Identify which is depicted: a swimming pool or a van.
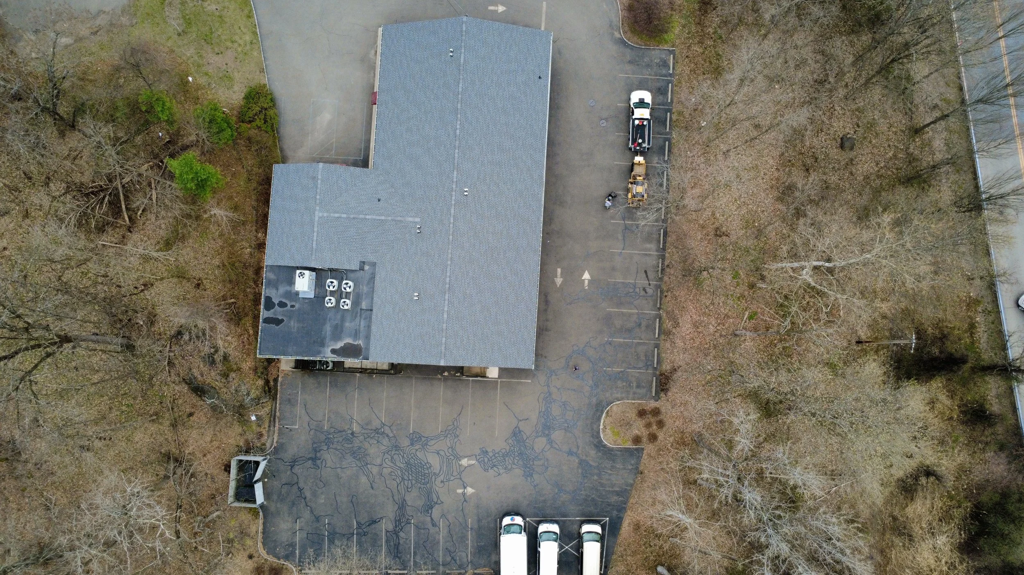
van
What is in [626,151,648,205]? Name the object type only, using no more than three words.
trailer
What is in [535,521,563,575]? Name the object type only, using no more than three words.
van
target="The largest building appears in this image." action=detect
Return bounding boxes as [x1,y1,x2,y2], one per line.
[256,15,554,370]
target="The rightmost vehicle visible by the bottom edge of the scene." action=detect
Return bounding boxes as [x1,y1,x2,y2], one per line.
[578,522,606,575]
